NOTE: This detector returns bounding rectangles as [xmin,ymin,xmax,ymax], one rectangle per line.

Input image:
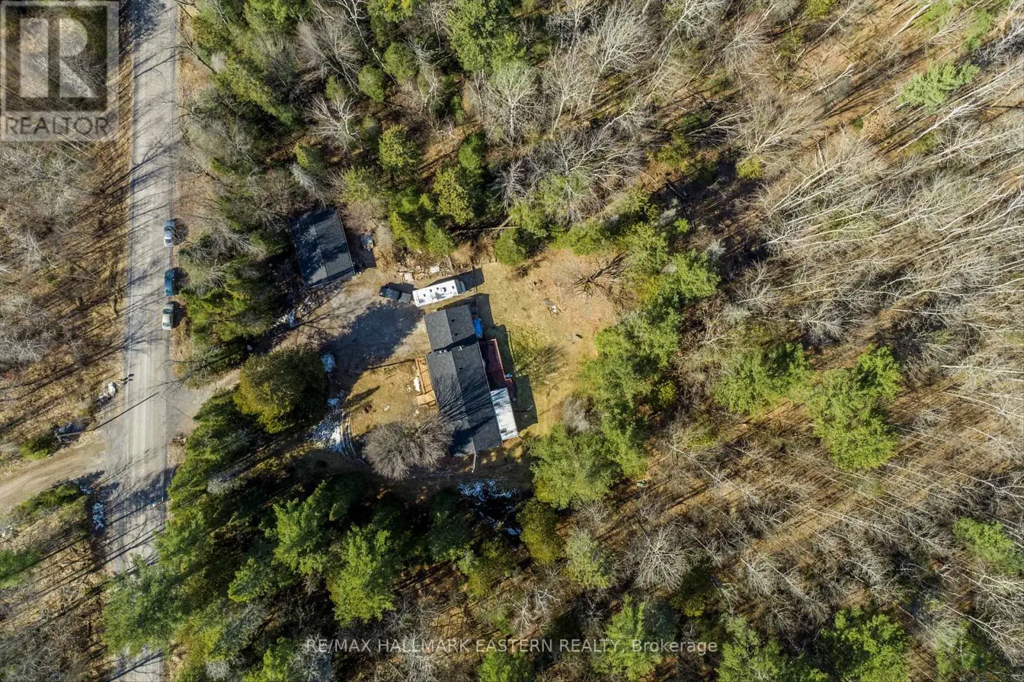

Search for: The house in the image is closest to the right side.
[415,308,518,455]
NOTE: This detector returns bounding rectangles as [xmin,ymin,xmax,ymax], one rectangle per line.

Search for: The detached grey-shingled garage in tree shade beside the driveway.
[288,208,358,291]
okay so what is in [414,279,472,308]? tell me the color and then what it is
white vehicle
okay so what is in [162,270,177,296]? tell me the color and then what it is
blue car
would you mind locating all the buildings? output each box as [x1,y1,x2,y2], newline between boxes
[415,308,518,455]
[288,208,358,291]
